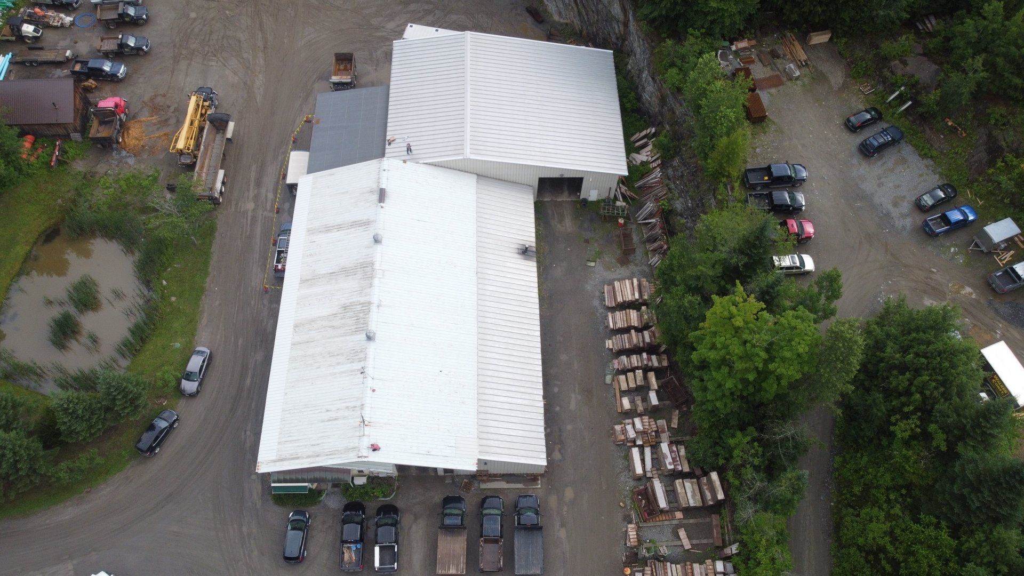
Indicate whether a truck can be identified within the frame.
Yes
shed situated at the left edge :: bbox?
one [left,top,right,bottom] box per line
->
[0,79,85,136]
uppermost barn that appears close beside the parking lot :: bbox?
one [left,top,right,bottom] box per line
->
[385,28,629,202]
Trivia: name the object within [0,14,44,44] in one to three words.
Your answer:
work vehicle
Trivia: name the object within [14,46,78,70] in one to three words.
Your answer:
trailer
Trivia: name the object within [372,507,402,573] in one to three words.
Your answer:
truck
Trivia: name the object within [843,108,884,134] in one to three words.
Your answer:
car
